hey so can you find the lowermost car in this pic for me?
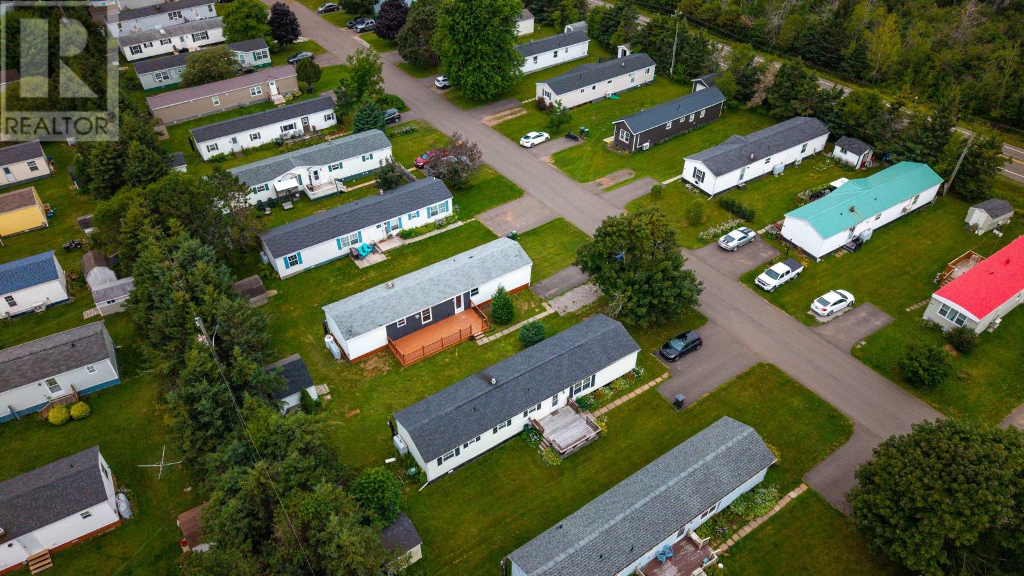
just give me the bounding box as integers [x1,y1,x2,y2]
[658,329,706,363]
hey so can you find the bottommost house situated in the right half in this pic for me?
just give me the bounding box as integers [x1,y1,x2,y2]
[507,415,776,576]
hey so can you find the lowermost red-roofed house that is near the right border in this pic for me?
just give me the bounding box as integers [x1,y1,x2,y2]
[924,231,1024,335]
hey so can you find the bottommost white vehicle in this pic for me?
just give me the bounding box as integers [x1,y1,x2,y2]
[810,289,854,320]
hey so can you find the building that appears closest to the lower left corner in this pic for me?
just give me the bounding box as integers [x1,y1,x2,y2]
[0,446,121,574]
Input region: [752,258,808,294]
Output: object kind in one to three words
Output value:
truck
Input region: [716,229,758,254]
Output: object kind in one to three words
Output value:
car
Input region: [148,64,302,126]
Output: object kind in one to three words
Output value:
house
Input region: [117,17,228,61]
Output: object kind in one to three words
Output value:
house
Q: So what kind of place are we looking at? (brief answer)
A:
residential area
